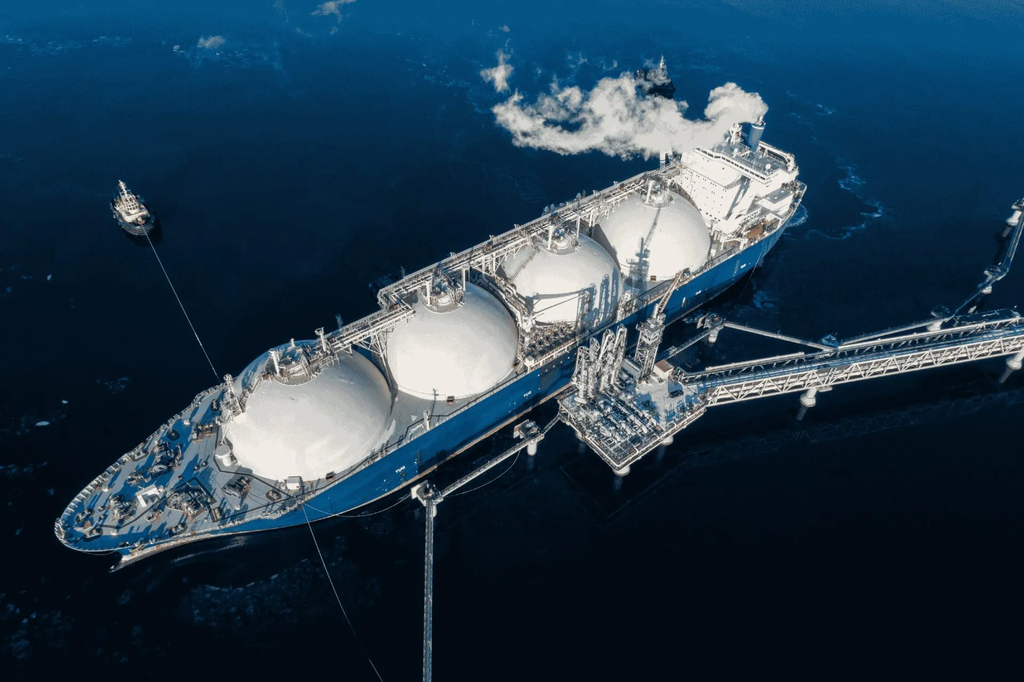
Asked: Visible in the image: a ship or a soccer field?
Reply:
ship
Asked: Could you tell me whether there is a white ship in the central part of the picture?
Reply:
Yes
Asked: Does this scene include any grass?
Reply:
No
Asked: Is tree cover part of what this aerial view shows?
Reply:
No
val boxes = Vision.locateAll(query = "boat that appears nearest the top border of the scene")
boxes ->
[638,58,675,92]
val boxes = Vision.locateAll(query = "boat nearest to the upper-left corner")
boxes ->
[104,184,152,235]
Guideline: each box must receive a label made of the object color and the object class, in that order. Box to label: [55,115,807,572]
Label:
white ship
